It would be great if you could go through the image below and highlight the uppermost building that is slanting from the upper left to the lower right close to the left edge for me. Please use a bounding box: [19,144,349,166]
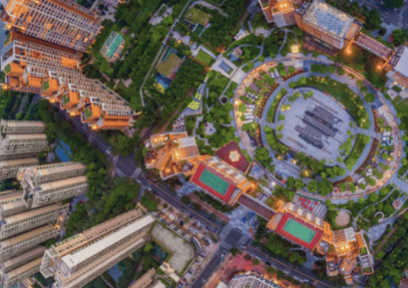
[0,29,135,127]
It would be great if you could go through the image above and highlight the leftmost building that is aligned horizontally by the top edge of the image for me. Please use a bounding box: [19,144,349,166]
[1,0,105,51]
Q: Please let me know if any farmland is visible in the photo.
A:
No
